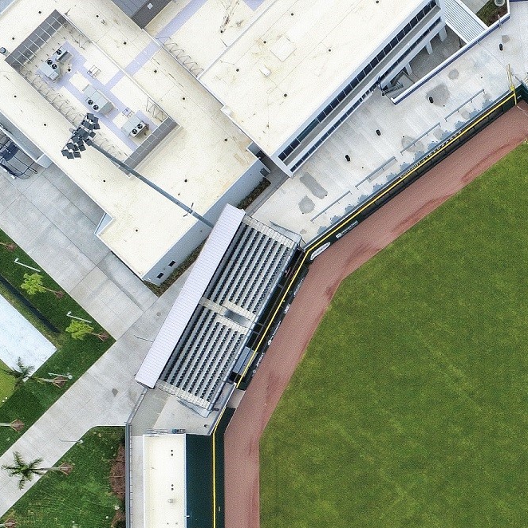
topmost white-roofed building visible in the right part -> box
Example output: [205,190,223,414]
[199,0,453,186]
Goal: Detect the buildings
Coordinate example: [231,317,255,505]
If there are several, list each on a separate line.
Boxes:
[199,0,453,186]
[0,0,273,283]
[145,433,211,528]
